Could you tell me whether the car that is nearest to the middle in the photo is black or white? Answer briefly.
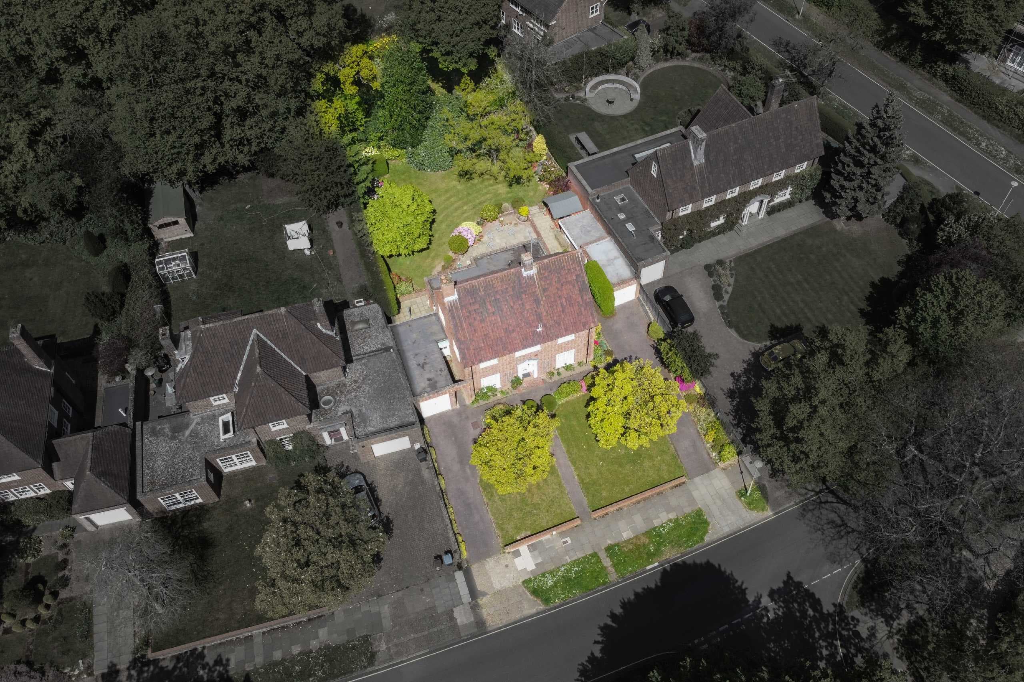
black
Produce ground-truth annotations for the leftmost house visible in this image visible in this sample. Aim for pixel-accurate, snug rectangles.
[0,319,150,531]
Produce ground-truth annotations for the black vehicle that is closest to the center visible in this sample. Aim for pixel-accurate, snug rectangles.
[655,285,696,332]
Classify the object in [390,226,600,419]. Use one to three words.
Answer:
house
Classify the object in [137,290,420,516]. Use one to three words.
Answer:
house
